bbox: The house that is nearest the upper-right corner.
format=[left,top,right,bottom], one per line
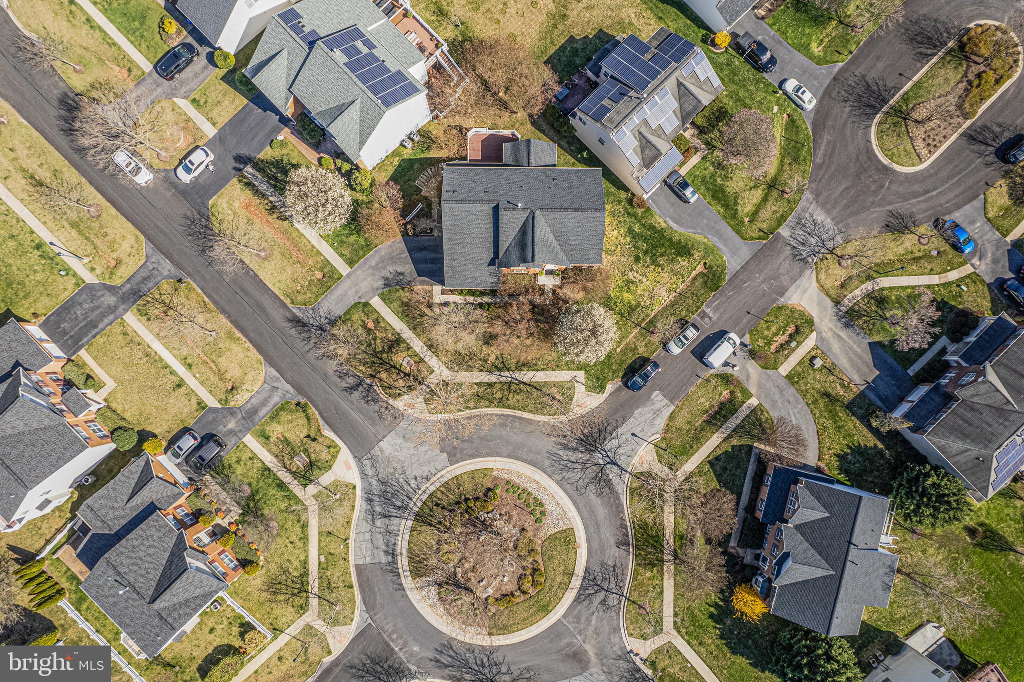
[684,0,757,34]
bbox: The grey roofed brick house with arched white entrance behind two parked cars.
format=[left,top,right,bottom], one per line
[77,452,244,661]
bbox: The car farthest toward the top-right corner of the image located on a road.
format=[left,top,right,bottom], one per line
[1001,139,1024,166]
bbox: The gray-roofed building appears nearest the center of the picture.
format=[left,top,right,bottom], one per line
[440,139,606,290]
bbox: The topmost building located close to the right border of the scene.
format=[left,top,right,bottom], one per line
[889,311,1024,503]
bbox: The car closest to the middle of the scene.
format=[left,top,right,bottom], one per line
[625,356,666,396]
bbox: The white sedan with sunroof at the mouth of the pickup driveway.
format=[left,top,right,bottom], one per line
[777,76,820,115]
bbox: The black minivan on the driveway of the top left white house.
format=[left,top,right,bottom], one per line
[150,43,201,82]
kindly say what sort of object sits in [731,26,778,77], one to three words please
truck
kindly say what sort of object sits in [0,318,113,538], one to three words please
house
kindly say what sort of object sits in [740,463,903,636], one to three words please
house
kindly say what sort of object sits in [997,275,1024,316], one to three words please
car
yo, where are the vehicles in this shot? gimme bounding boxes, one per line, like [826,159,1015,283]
[110,149,155,187]
[176,145,215,183]
[699,328,741,373]
[165,428,203,465]
[662,169,703,208]
[731,26,778,77]
[663,318,704,358]
[997,275,1024,316]
[1001,139,1024,166]
[625,356,666,396]
[150,43,201,82]
[189,435,227,473]
[777,76,820,115]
